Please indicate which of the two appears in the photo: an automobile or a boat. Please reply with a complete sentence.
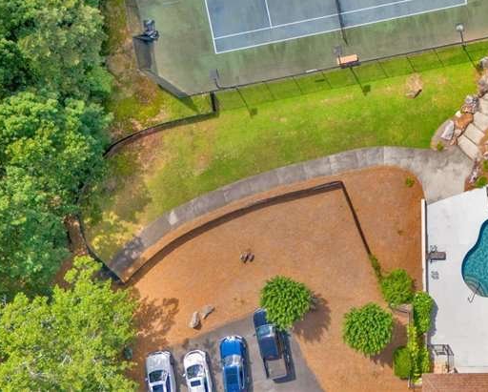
Of the two, only an automobile appears.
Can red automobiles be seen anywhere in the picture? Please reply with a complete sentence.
No, there isn't any red automobile down there.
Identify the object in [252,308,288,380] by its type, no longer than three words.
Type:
truck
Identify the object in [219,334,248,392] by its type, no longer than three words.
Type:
car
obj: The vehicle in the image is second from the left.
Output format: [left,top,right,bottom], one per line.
[183,347,212,392]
